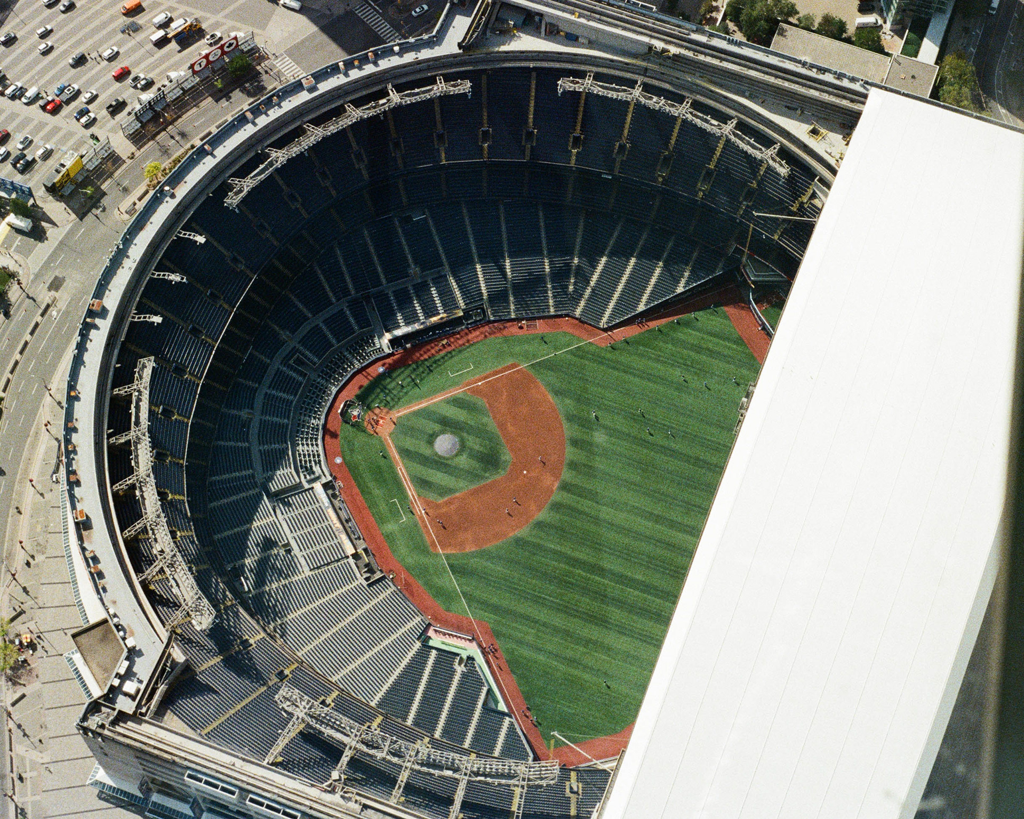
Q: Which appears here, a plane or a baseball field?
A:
baseball field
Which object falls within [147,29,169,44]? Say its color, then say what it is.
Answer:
white vehicle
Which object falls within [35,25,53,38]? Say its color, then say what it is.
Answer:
white vehicle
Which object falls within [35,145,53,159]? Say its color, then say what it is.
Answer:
white car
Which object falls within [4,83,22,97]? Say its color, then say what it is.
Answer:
white car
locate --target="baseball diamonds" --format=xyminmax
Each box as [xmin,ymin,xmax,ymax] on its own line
[323,269,769,767]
